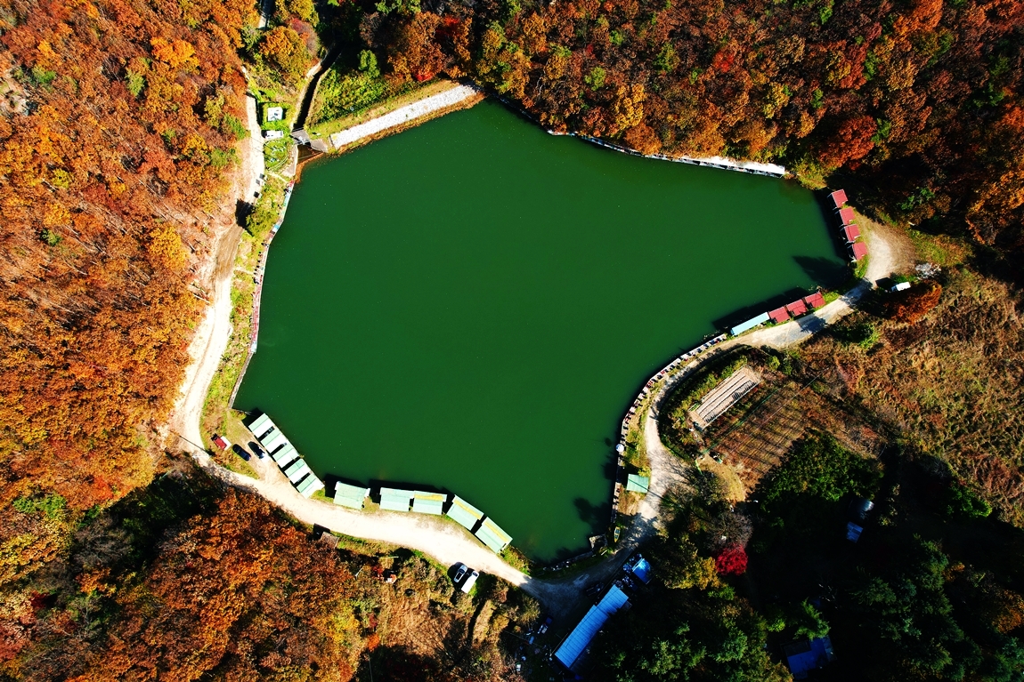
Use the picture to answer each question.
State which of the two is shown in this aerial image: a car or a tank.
car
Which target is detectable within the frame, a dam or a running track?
dam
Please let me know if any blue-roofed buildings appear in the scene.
Yes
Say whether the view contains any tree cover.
Yes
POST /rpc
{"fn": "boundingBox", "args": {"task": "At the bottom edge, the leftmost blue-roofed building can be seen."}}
[554,582,628,666]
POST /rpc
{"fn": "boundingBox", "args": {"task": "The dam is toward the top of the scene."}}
[329,85,476,148]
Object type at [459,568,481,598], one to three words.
vehicle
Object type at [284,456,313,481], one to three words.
shed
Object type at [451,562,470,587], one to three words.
car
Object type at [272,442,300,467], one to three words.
shed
